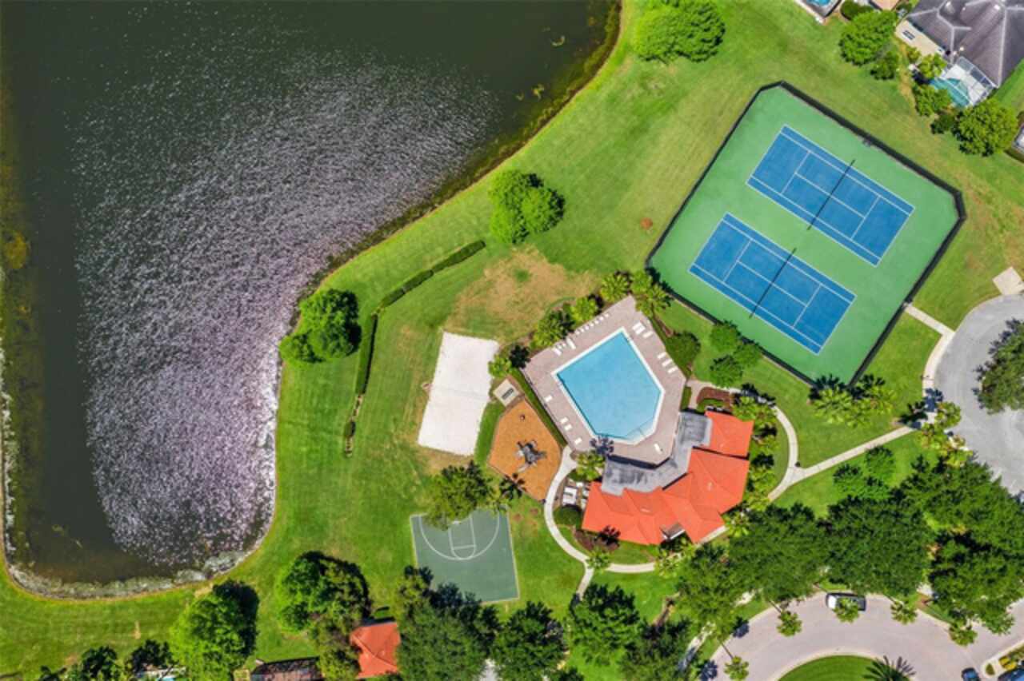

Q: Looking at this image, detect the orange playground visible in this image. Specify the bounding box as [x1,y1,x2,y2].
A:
[488,400,562,501]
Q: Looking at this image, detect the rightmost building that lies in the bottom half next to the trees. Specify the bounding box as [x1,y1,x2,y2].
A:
[582,411,754,552]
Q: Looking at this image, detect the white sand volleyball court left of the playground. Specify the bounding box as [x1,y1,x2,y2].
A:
[418,332,499,456]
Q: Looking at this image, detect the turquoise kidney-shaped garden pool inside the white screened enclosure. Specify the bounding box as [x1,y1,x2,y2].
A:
[932,74,971,106]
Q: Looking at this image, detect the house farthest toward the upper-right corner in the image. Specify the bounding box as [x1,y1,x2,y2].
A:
[901,0,1024,88]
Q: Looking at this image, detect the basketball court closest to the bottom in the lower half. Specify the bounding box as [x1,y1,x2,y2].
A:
[410,508,519,609]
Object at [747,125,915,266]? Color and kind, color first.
blue tennis court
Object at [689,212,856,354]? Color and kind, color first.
blue tennis court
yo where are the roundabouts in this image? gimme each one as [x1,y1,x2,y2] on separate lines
[706,589,1024,681]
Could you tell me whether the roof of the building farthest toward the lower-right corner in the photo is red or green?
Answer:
red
